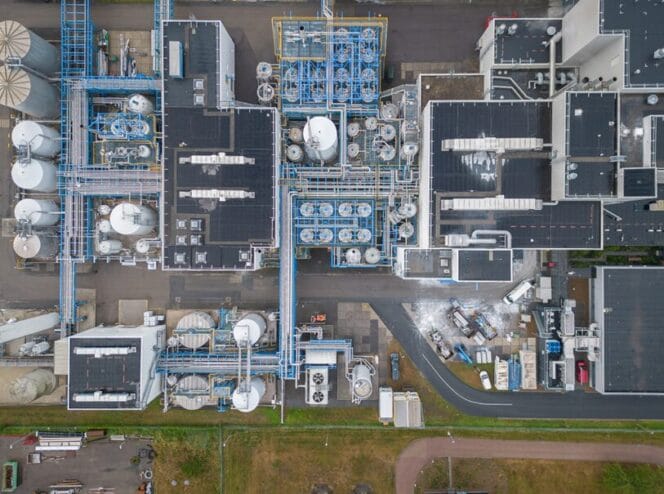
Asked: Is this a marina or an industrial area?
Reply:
industrial area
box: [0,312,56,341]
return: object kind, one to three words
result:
silo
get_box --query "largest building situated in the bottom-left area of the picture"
[69,327,167,410]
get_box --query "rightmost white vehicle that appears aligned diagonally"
[501,277,538,307]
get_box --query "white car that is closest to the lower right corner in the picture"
[477,368,493,391]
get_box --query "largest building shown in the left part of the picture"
[163,21,282,270]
